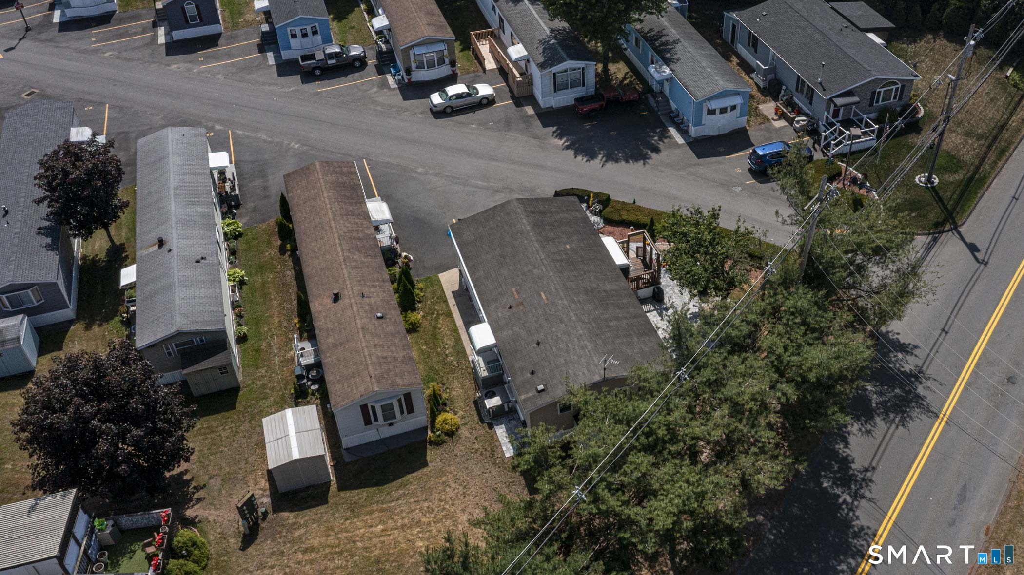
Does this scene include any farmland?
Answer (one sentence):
No, no farmland is visible.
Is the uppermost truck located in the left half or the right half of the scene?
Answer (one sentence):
The uppermost truck sits on the left side.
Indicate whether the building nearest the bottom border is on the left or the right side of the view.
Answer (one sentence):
It is on the left.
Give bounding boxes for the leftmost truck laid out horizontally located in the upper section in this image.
[300,40,370,73]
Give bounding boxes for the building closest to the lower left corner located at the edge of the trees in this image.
[0,485,88,575]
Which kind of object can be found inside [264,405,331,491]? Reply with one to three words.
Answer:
shed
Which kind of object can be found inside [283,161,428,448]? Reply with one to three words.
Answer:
house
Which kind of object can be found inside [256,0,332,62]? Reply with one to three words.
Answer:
house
